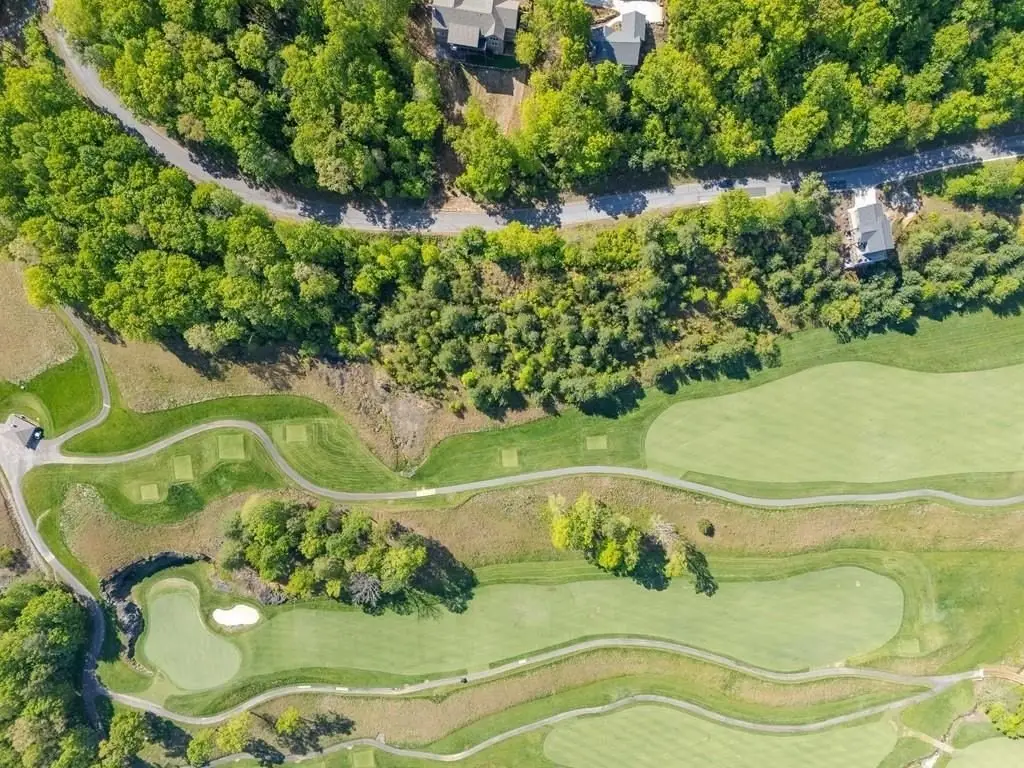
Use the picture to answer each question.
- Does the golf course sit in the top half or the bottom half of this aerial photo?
bottom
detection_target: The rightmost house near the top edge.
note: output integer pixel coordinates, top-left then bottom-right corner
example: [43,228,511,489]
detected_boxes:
[600,11,645,81]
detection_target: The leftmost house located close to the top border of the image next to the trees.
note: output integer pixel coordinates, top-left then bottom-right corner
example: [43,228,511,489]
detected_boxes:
[437,0,521,59]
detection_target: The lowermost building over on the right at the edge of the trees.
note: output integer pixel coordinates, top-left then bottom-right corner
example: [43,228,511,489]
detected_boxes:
[847,205,897,270]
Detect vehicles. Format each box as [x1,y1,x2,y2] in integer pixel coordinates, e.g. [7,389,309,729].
[31,430,40,439]
[831,179,849,188]
[459,678,468,686]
